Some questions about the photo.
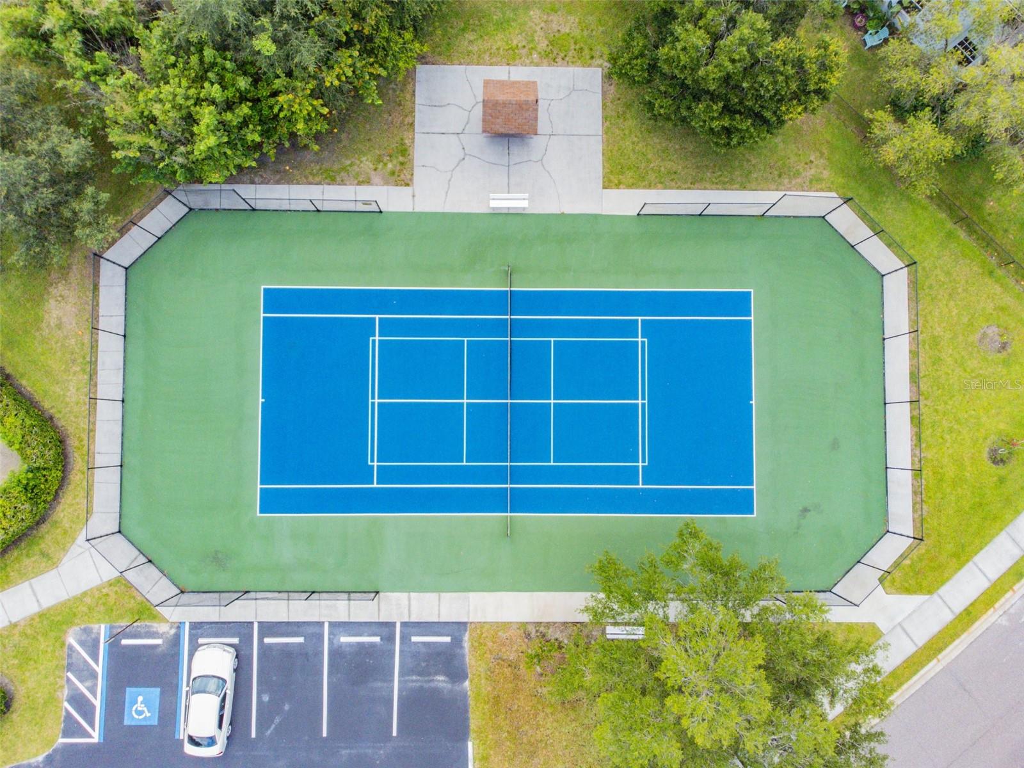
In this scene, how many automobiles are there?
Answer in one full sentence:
There is 1 automobile in the image.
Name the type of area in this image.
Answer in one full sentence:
This looks like a sports ground.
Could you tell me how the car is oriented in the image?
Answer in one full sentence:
The car runs up and down in the image.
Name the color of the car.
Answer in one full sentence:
The color of the car is white.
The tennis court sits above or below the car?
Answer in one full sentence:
In the image, the tennis court sits above the car.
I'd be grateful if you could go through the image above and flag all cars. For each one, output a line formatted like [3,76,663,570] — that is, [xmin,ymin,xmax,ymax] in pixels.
[187,644,240,759]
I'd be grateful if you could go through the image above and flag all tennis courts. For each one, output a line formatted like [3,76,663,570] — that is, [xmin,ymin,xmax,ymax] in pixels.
[121,210,887,591]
